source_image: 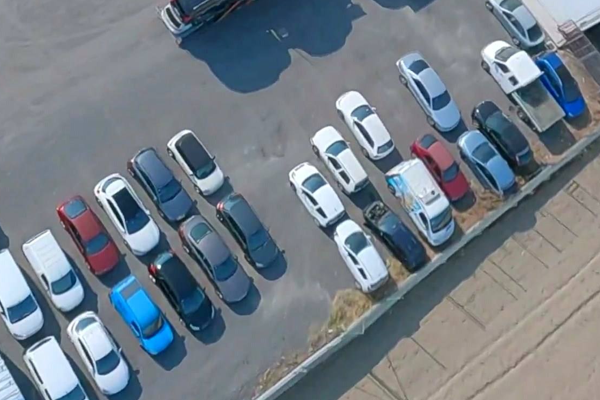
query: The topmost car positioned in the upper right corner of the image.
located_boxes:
[490,0,547,48]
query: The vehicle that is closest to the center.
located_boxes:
[286,162,348,232]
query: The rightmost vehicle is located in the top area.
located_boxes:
[536,51,585,116]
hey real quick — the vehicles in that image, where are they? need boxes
[95,175,159,258]
[310,126,371,197]
[331,219,391,295]
[20,336,87,400]
[335,93,394,163]
[130,147,191,224]
[395,55,457,135]
[362,202,426,277]
[21,230,85,317]
[169,130,224,198]
[108,274,173,359]
[216,191,278,271]
[451,132,510,198]
[479,42,567,135]
[57,197,118,278]
[178,216,246,307]
[375,156,456,250]
[286,162,348,232]
[536,51,585,116]
[0,249,42,342]
[410,135,467,203]
[149,250,216,335]
[66,314,126,399]
[490,0,547,48]
[473,100,532,169]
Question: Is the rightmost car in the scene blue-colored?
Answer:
Yes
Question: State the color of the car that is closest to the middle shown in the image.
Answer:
white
